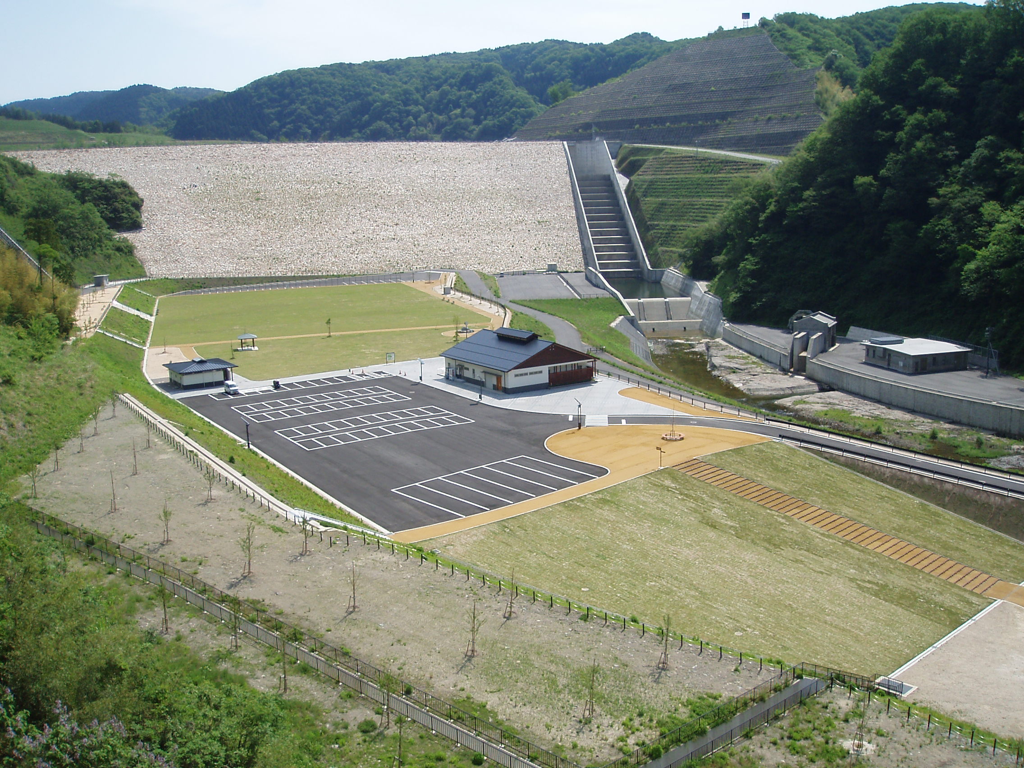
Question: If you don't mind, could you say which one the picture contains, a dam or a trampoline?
dam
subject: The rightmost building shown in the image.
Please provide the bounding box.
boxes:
[859,339,978,374]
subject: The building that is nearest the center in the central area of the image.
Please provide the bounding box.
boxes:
[437,325,601,393]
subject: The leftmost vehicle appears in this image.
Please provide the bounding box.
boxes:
[224,377,243,393]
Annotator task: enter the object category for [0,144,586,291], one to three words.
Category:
dam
